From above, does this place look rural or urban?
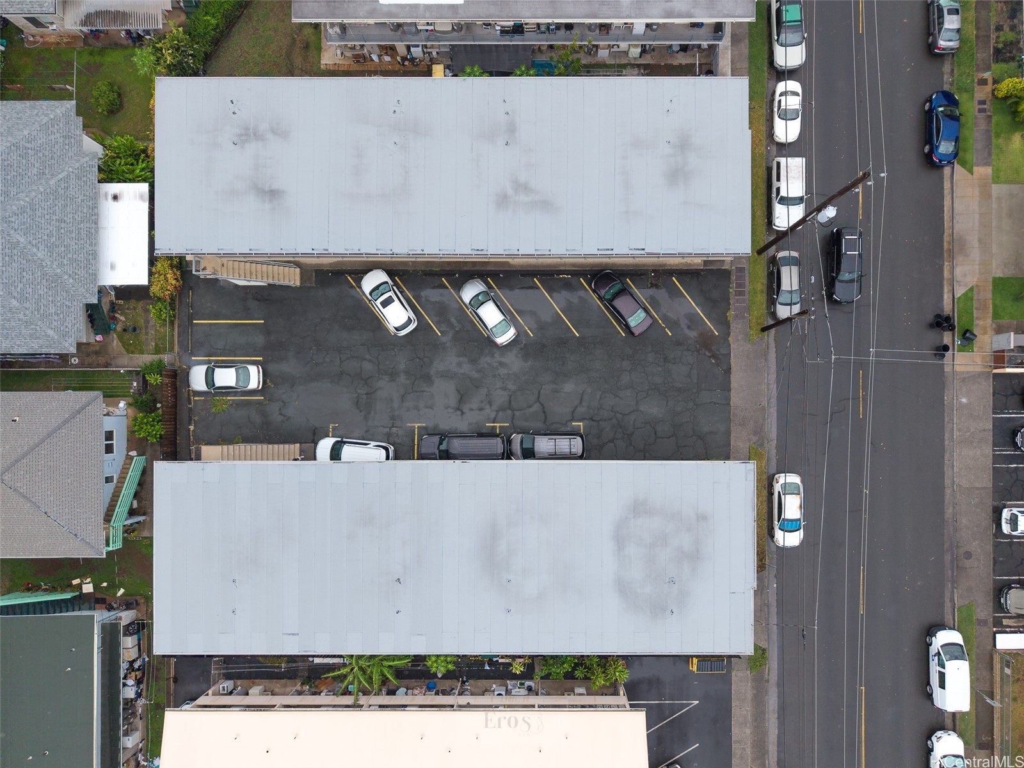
urban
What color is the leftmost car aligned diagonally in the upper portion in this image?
white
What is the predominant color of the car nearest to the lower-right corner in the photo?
white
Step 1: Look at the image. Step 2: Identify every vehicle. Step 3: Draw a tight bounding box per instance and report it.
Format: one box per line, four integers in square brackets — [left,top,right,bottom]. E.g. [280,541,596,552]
[592,270,653,337]
[1002,505,1024,536]
[317,433,396,461]
[1000,583,1024,615]
[827,226,866,302]
[770,473,805,548]
[925,0,963,58]
[770,154,807,231]
[770,79,804,147]
[419,431,506,461]
[508,431,586,461]
[927,627,971,714]
[923,91,962,168]
[189,362,266,393]
[461,279,518,347]
[362,270,417,337]
[770,0,808,73]
[926,726,965,768]
[769,248,804,321]
[658,760,686,768]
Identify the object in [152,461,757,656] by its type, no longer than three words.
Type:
building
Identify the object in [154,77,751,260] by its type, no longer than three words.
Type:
building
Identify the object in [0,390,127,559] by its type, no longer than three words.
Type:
house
